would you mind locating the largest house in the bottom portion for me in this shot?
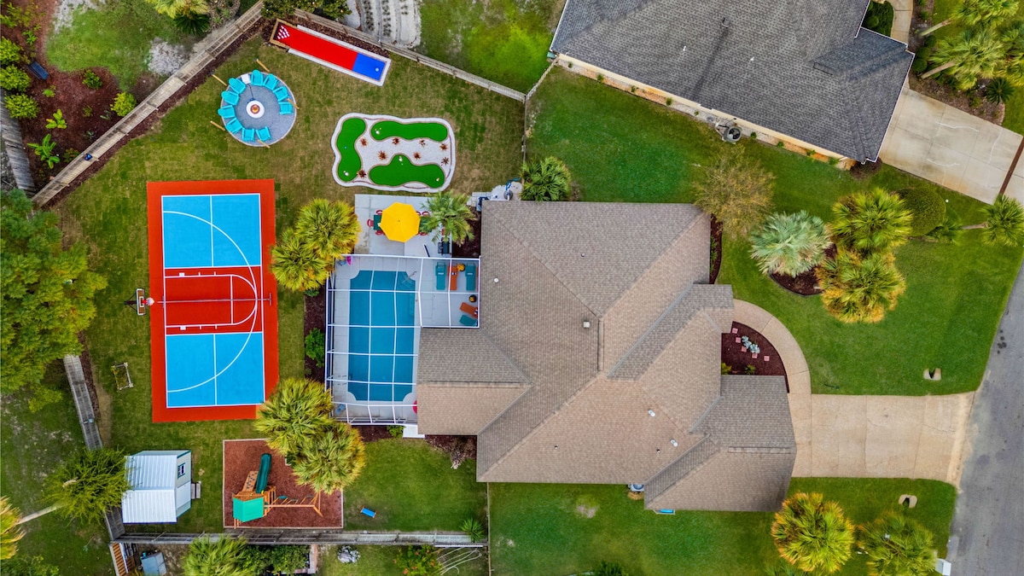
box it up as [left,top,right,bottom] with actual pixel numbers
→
[417,200,797,512]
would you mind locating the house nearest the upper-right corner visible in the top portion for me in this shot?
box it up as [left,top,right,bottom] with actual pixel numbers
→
[550,0,915,162]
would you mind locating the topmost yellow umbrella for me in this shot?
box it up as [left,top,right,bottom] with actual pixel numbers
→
[382,203,421,243]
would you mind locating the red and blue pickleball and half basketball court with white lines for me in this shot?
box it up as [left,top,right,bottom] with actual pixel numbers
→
[147,179,278,422]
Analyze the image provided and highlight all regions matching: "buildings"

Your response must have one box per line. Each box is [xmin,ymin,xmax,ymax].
[116,449,191,522]
[550,0,915,162]
[417,200,797,512]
